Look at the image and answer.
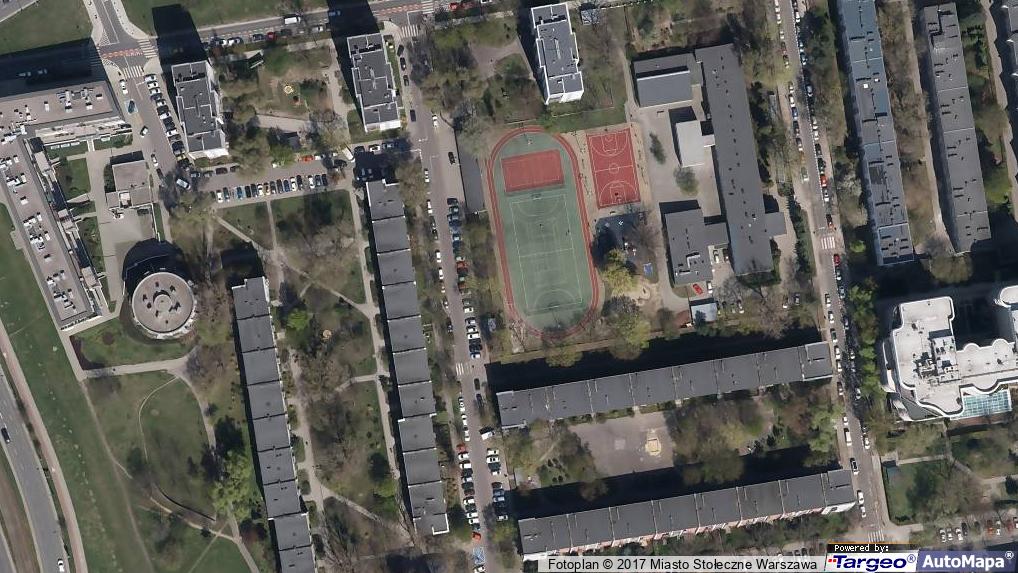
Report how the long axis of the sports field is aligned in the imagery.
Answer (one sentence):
From this overhead view, the sports field appears to run from top to bottom.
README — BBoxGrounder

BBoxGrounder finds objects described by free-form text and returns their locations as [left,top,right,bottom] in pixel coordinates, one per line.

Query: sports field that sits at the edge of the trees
[496,135,589,330]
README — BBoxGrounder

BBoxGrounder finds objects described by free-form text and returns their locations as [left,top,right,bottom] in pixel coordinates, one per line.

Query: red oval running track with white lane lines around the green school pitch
[487,127,596,338]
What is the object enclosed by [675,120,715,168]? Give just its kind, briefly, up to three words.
building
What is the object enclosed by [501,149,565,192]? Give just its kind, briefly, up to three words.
tennis court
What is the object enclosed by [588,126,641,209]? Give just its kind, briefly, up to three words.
basketball court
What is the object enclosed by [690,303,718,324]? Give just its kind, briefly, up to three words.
shed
